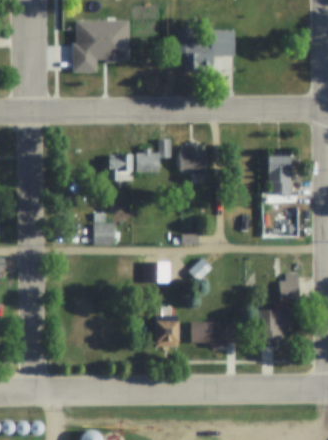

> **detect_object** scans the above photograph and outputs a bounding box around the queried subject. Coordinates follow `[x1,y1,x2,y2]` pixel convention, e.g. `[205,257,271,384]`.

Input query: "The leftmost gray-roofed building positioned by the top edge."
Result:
[72,17,130,74]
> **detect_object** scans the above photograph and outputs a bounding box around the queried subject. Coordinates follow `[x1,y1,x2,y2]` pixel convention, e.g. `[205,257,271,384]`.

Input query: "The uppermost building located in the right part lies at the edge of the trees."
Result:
[182,30,236,70]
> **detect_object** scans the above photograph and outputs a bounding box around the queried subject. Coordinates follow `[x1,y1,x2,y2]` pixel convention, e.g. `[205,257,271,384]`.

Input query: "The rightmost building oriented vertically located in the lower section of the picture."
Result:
[279,272,300,332]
